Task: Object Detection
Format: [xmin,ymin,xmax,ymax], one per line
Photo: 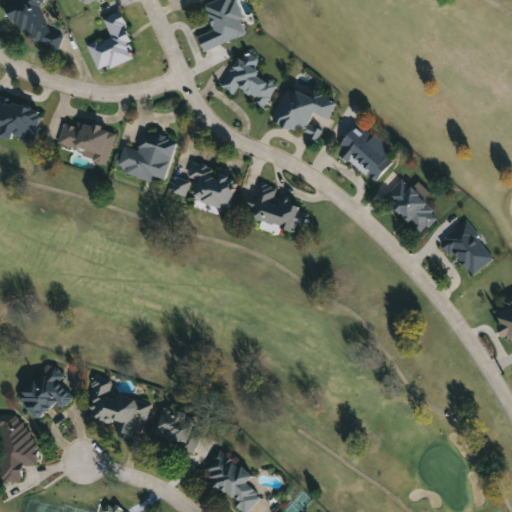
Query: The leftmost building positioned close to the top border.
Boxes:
[3,0,66,50]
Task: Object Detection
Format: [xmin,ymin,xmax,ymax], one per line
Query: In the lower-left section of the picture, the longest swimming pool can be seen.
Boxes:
[112,376,147,394]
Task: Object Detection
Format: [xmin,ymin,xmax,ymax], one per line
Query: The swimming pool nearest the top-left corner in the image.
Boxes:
[64,149,94,169]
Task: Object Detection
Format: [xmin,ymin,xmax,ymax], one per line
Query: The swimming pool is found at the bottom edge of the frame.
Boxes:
[254,470,285,500]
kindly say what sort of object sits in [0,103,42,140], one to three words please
house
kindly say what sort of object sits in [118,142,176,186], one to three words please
house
